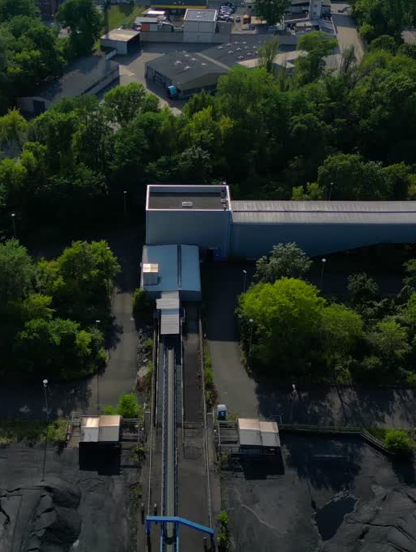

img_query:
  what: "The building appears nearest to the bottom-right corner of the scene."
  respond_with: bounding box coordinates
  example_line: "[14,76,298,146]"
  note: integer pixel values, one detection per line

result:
[236,418,280,456]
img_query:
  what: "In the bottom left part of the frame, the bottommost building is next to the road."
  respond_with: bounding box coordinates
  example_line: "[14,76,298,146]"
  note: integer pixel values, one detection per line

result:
[82,413,122,451]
